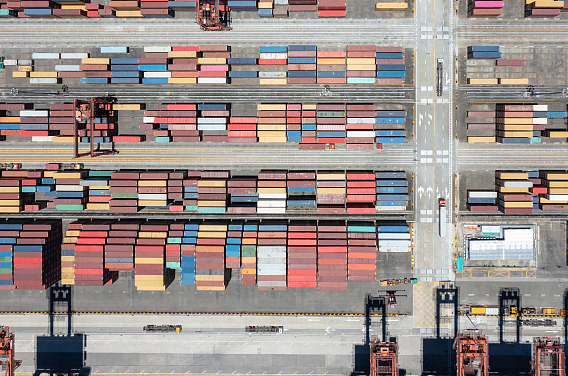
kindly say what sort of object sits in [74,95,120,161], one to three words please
container crane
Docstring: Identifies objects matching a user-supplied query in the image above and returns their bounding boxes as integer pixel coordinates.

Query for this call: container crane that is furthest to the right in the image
[531,337,568,376]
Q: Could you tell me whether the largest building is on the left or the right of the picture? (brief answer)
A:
right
